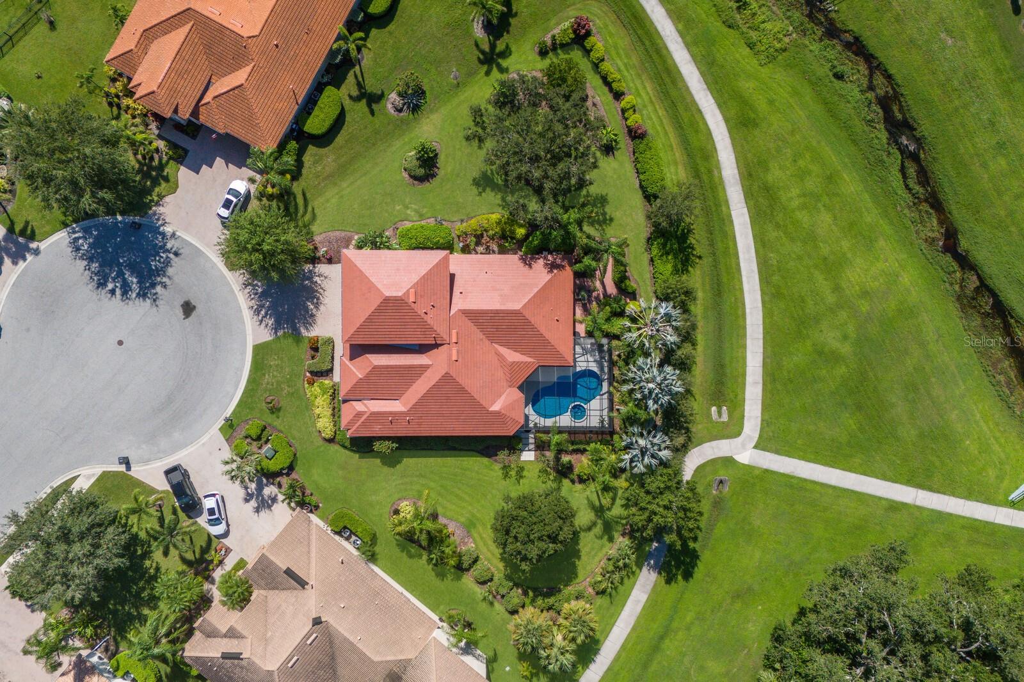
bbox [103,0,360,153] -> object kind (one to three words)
house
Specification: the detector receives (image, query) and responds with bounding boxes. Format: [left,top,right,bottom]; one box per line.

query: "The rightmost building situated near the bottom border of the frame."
[183,508,491,682]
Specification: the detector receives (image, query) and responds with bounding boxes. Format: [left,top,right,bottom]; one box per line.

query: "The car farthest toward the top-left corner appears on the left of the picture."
[218,179,251,224]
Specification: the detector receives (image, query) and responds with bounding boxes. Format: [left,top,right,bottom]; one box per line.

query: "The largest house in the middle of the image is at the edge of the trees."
[339,250,574,437]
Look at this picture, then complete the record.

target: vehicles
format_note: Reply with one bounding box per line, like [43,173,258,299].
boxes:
[164,460,205,516]
[218,179,251,224]
[204,490,231,536]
